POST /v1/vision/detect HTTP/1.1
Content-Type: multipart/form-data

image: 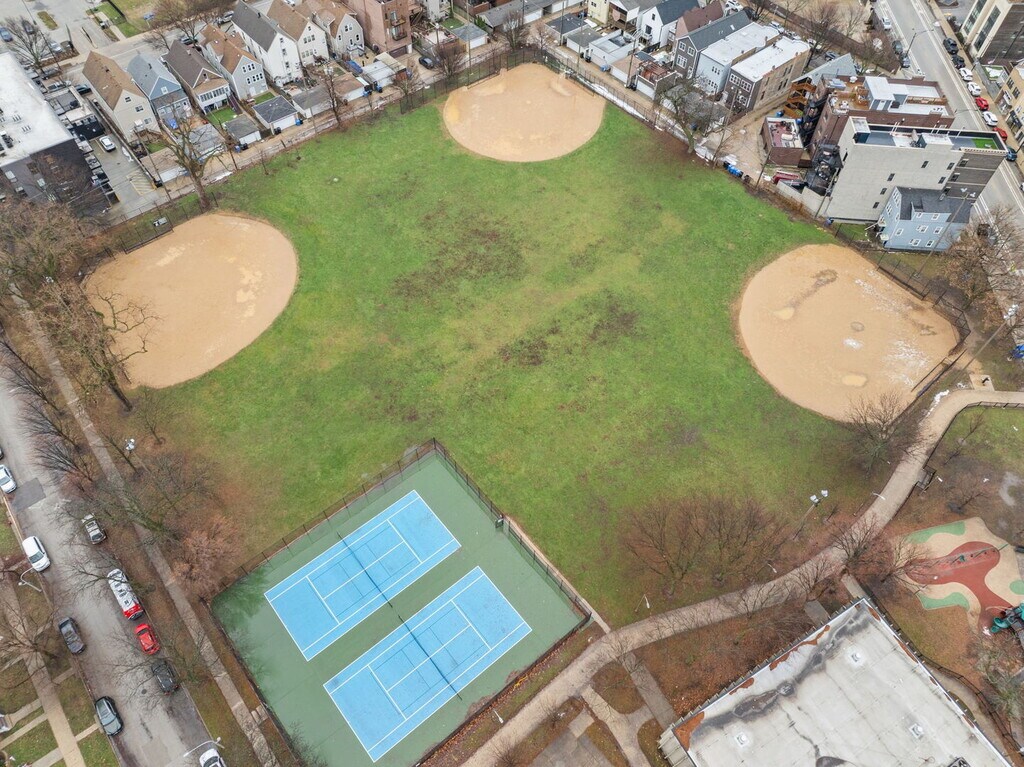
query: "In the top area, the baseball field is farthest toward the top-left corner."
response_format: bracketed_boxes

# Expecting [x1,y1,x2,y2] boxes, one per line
[86,208,303,392]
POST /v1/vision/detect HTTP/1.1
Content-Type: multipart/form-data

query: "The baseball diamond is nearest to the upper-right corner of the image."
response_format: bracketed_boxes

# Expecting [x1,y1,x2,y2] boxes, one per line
[735,240,962,426]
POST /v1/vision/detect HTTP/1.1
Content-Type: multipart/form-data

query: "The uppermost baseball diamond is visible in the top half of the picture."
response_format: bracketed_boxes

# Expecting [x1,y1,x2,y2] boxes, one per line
[440,60,610,165]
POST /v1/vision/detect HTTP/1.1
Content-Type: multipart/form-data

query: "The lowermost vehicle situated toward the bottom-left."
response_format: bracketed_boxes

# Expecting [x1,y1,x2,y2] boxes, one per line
[197,742,225,767]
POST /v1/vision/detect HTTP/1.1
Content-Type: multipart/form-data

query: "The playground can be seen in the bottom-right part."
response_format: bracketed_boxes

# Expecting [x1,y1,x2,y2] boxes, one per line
[896,517,1024,643]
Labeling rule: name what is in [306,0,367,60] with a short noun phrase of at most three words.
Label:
house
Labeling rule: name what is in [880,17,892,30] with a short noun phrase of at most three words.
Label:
vehicle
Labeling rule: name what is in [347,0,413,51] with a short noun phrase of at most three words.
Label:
building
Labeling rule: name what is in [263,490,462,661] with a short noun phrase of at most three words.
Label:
tennis court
